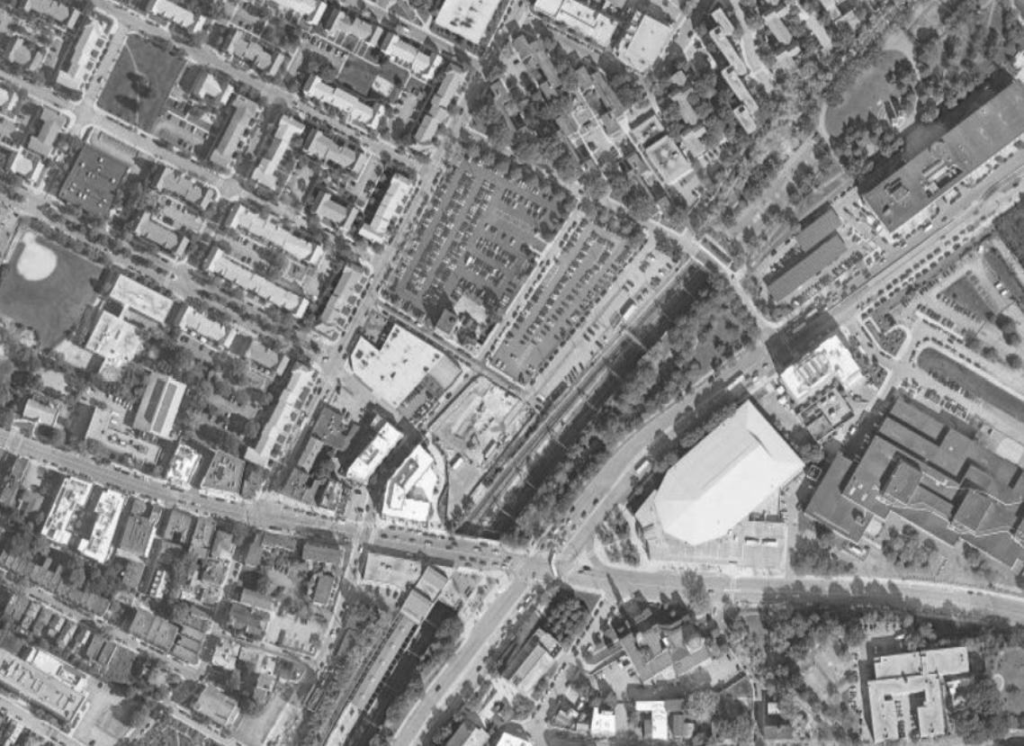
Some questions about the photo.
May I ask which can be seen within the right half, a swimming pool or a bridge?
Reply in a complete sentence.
You can see a bridge within the right half.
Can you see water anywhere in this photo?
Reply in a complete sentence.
No, there's no water in this view.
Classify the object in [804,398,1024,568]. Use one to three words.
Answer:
building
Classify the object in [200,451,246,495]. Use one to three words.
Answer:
building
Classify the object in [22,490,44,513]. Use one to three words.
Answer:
house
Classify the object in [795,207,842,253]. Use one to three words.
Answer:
shed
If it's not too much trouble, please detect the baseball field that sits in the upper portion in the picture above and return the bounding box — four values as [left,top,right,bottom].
[0,220,106,349]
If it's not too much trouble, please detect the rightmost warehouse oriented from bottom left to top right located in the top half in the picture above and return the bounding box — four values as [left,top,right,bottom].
[863,79,1024,232]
